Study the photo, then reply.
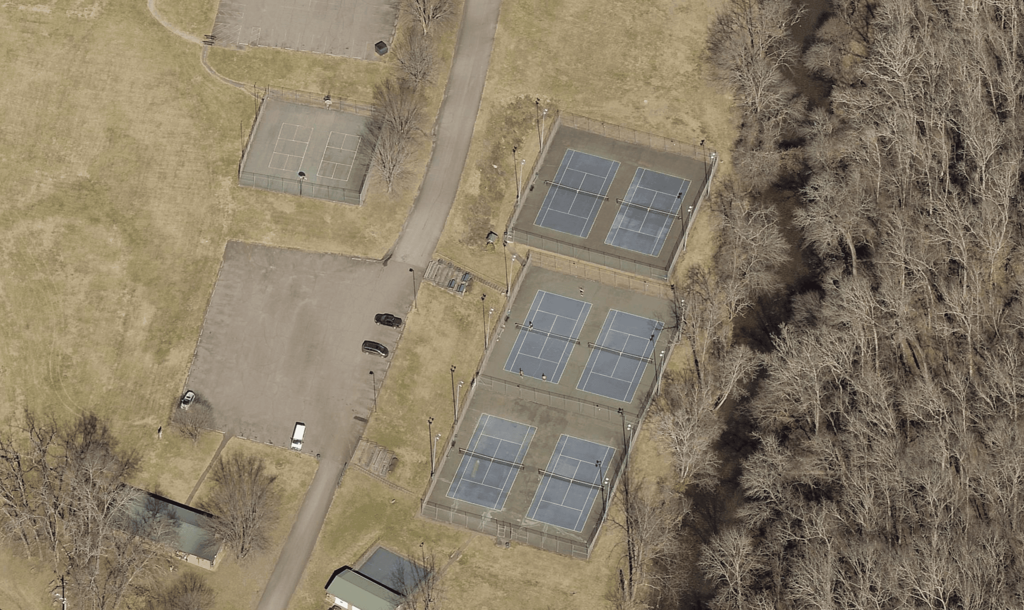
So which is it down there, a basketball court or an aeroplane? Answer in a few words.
basketball court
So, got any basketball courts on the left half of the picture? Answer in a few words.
Yes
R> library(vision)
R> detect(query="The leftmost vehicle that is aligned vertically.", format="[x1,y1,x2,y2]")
[291,425,306,452]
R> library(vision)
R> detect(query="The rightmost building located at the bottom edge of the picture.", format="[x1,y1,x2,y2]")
[329,569,406,610]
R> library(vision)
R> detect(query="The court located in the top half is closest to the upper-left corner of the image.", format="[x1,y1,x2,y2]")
[238,98,389,206]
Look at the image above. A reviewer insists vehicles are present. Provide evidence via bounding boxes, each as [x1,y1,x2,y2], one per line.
[362,343,389,359]
[372,315,403,330]
[179,392,196,410]
[291,425,306,452]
